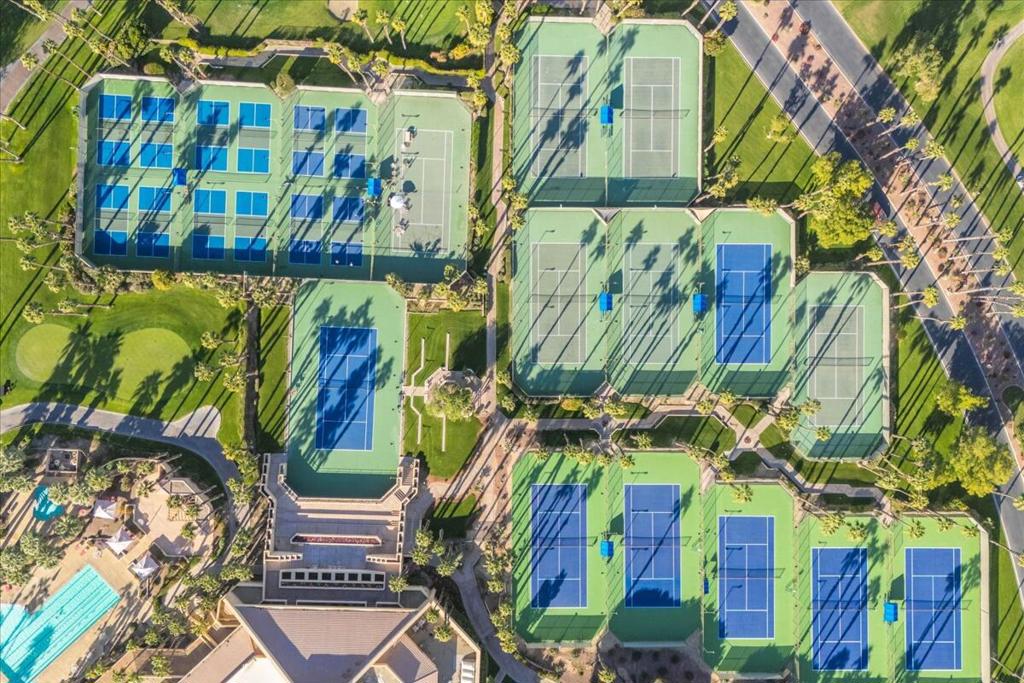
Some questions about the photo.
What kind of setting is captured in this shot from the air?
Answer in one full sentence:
What you see here is a sports ground.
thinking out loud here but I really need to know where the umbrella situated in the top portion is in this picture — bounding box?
[391,196,405,209]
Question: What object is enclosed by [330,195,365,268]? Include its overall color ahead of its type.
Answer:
blue sports court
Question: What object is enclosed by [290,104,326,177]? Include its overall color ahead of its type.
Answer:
blue sports court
